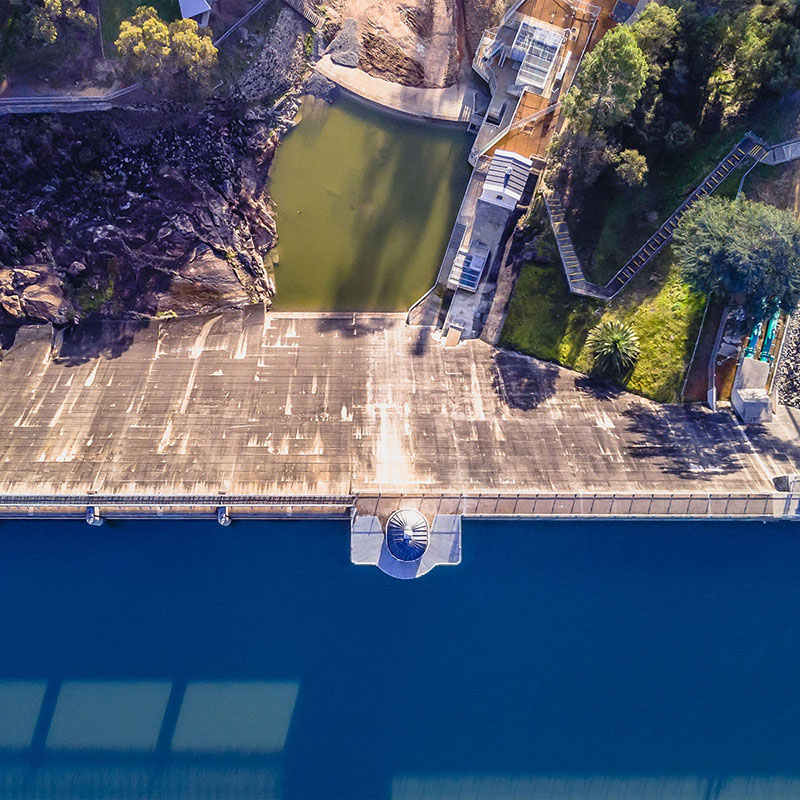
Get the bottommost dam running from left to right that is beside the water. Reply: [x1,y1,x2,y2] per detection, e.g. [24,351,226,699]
[0,303,800,521]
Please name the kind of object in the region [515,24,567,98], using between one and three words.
building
